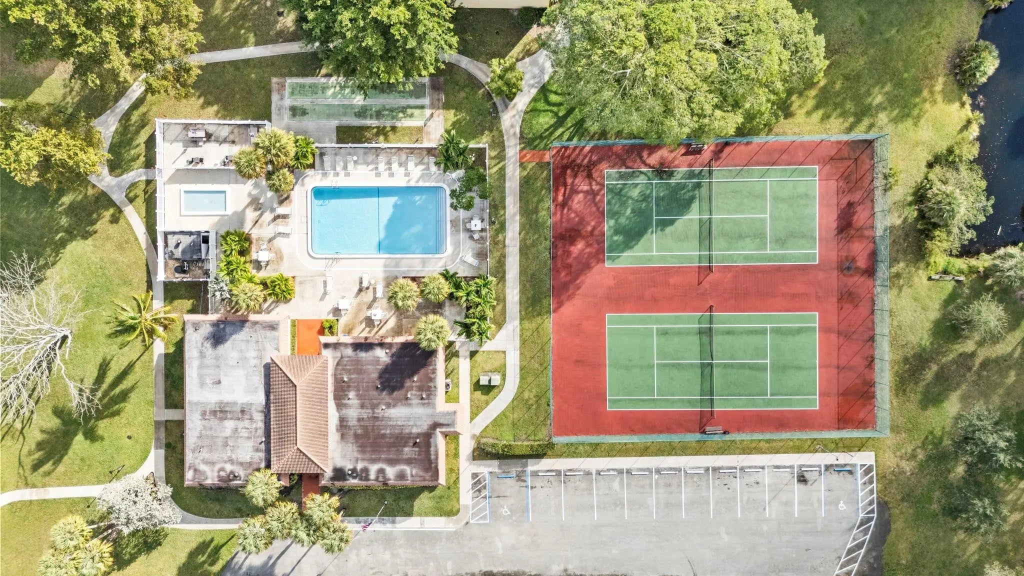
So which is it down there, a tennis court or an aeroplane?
tennis court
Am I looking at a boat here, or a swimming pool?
swimming pool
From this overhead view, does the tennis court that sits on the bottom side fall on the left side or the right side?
right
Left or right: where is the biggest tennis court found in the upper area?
right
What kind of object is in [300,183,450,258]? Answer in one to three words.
swimming pool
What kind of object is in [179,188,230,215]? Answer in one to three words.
swimming pool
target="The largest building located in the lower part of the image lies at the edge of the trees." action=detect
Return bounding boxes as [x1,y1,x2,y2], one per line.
[183,314,464,487]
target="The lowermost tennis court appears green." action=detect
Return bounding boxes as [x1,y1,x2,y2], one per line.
[606,313,819,411]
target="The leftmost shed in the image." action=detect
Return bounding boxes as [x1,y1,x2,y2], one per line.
[168,233,201,258]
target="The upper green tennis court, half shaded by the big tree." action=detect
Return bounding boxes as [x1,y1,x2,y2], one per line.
[605,166,819,266]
